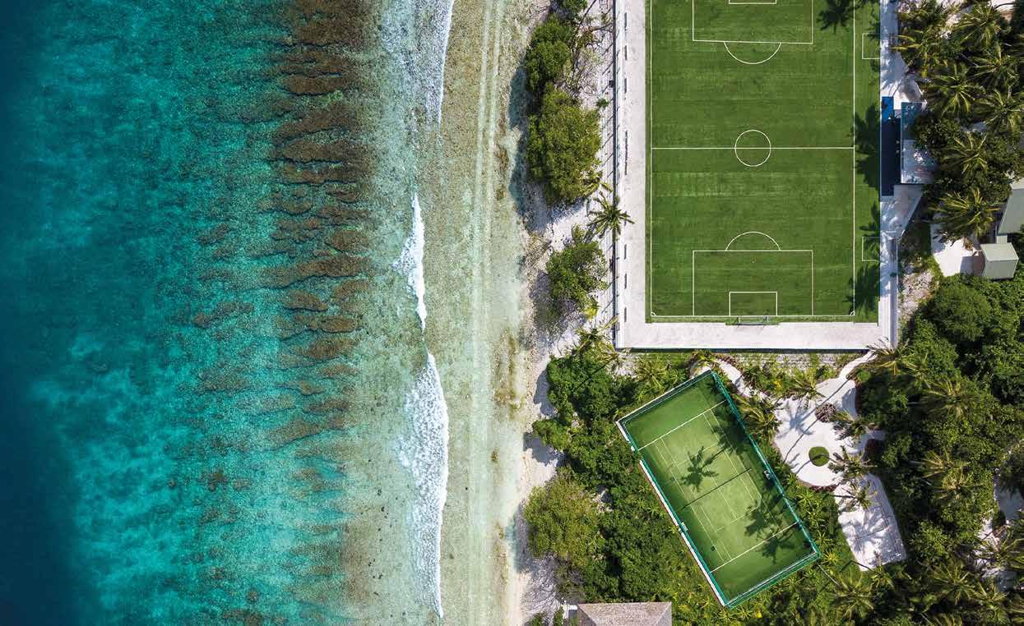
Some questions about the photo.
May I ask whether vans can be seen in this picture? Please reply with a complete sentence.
No, the photo shows no van.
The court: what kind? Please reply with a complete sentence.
Specifically, the court is a tennis court.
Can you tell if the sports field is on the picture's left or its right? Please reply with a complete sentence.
It is on the right.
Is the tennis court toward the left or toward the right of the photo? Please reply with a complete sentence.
It is on the right.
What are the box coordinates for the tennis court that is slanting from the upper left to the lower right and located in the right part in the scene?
[618,371,815,604]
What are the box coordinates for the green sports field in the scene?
[645,0,880,325]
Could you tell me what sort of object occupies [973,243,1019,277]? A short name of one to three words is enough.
shed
